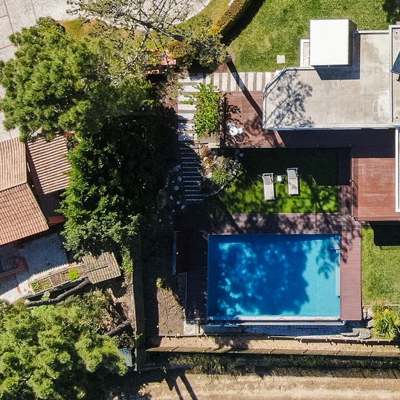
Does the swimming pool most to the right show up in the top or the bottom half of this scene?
bottom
